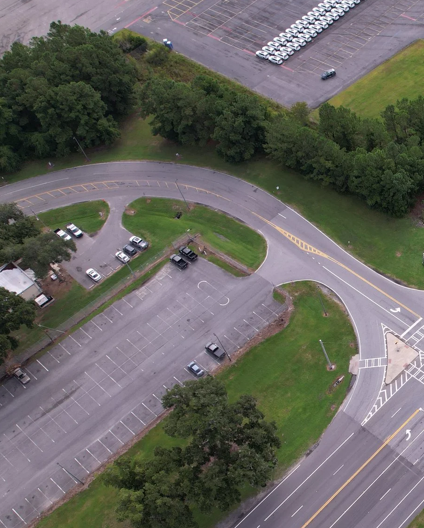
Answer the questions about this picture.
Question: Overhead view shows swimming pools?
No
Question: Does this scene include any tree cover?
Yes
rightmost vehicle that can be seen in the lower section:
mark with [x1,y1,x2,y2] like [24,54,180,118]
[204,342,226,359]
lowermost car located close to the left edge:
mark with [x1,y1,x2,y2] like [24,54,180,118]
[11,368,30,383]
